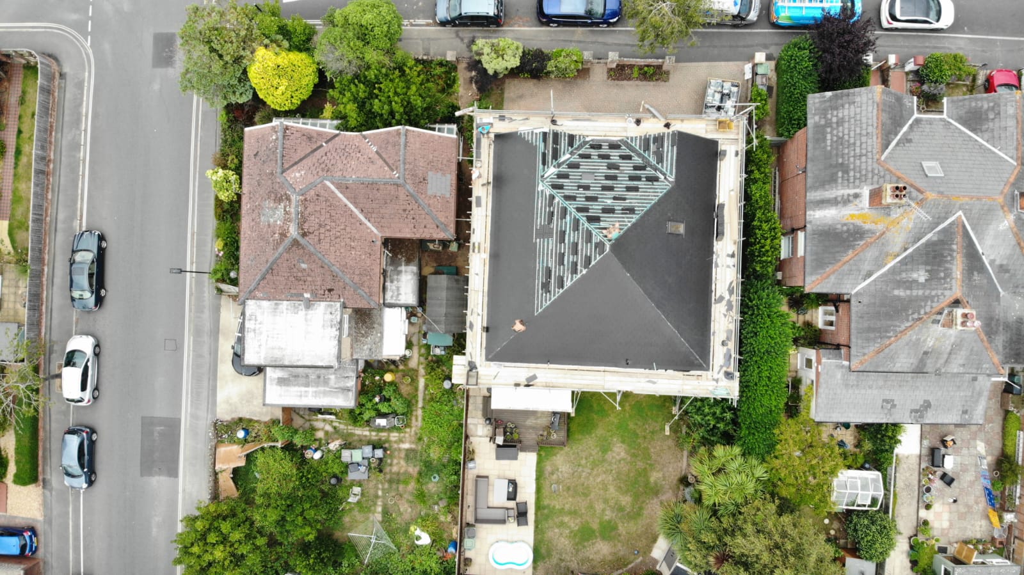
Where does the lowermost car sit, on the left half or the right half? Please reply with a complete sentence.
The lowermost car appears in the left half of the scene.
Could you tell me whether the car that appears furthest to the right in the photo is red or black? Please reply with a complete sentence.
From above, the car that appears furthest to the right appears red.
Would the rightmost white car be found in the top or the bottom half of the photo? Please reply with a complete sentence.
The top half of the photo is where the rightmost white car is.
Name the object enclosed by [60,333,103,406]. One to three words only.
car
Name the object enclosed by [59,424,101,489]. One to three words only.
car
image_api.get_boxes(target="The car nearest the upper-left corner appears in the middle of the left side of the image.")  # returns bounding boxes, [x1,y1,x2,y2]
[66,230,110,312]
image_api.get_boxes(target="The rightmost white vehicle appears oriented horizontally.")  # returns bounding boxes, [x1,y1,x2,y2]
[878,0,952,31]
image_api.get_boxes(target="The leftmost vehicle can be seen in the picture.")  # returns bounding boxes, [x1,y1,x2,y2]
[0,525,40,559]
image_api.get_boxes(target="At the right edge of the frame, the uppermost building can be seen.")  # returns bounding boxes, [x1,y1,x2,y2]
[778,86,1024,425]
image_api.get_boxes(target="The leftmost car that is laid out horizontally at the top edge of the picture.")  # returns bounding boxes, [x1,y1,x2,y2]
[436,0,506,29]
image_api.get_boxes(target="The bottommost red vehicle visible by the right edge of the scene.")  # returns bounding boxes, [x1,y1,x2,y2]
[984,71,1024,94]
